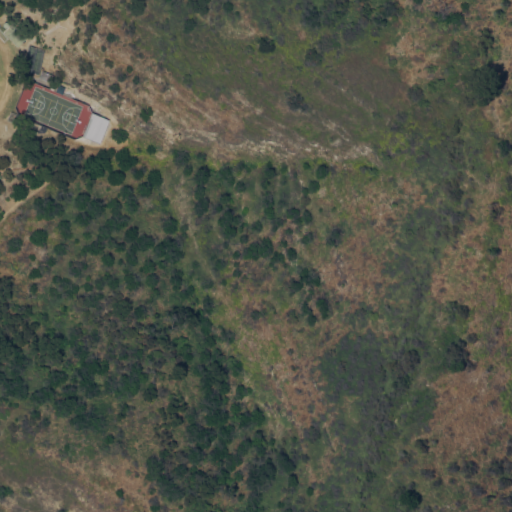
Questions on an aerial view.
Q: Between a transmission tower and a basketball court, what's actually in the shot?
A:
basketball court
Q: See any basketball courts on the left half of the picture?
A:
Yes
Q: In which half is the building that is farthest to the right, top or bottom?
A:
top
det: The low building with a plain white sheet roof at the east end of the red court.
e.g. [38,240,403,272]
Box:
[83,114,110,143]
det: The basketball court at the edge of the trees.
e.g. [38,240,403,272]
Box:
[17,82,92,138]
